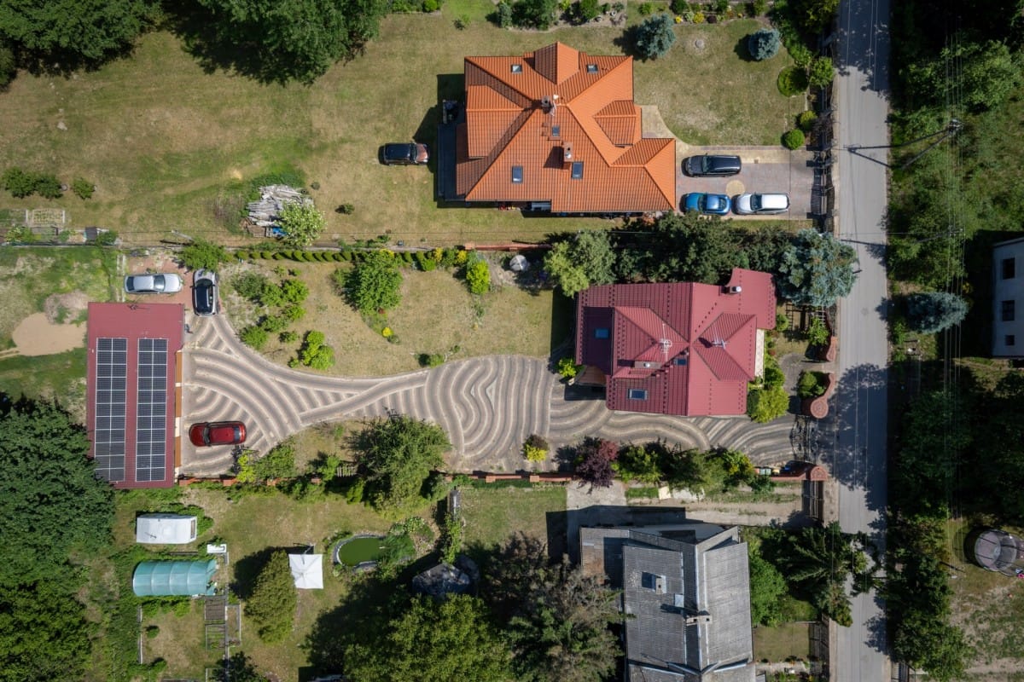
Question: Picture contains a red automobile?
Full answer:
Yes, a red automobile can be made out from above.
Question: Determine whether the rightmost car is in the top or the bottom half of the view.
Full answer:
The rightmost car is in the top half of the image.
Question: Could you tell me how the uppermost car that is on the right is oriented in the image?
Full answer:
Seen from above, the uppermost car that is on the right lies horizontally.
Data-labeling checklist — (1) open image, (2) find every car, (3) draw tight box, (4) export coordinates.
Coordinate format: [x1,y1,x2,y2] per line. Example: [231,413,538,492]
[125,269,185,295]
[381,140,429,166]
[682,151,741,178]
[192,421,248,447]
[682,191,731,216]
[733,191,790,216]
[192,269,220,317]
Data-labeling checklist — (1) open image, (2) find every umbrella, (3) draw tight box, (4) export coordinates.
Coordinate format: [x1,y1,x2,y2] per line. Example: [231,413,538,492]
[289,541,324,589]
[509,255,527,273]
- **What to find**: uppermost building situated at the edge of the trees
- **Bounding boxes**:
[456,41,677,213]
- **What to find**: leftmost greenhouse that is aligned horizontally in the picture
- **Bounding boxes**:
[127,557,224,597]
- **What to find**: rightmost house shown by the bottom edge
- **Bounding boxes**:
[580,517,752,682]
